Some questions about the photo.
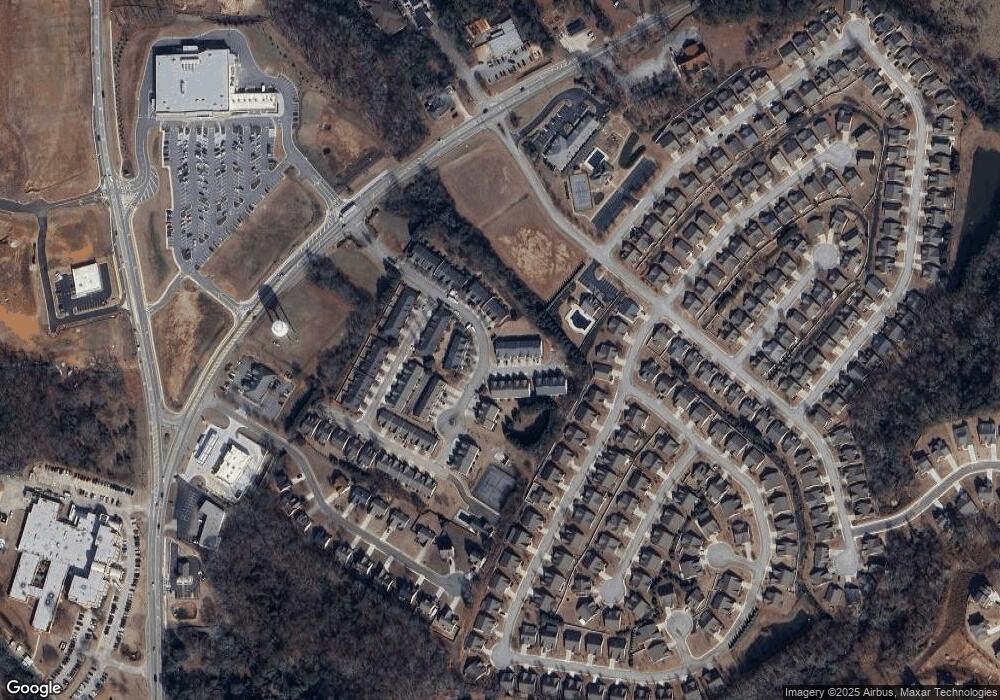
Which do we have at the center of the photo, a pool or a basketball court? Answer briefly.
pool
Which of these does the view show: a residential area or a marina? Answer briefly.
residential area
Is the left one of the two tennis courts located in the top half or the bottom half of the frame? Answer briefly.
bottom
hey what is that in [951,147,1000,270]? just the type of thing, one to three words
pond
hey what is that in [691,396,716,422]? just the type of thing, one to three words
house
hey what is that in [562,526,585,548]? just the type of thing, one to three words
house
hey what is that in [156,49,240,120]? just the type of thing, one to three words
building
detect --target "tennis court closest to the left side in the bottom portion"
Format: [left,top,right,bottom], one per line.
[474,466,516,510]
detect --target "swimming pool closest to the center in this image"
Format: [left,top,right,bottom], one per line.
[565,305,595,335]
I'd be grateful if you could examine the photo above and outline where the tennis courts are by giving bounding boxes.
[568,173,593,210]
[474,466,516,510]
